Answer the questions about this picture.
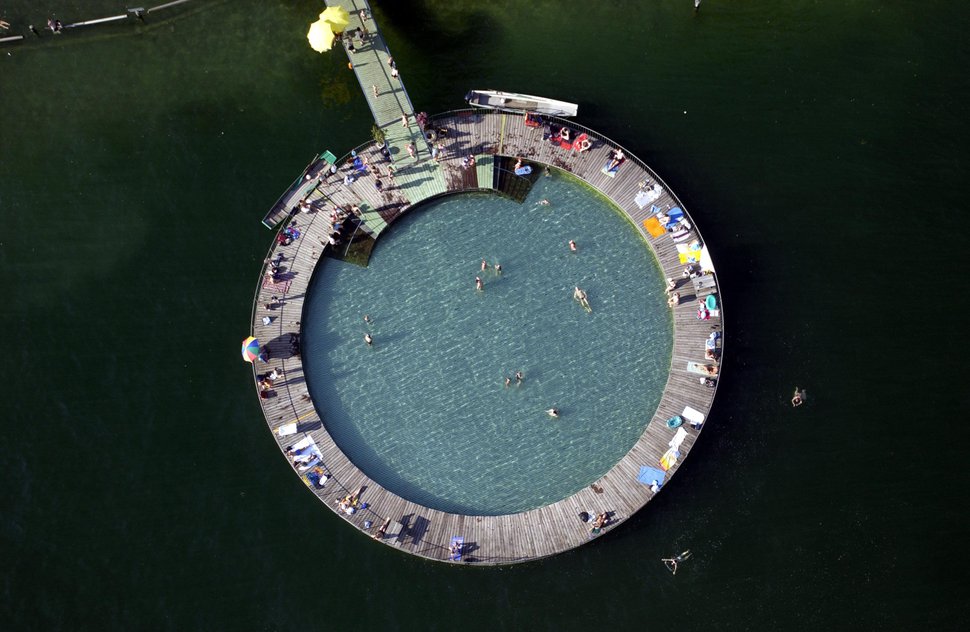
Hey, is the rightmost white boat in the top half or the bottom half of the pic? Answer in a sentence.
The rightmost white boat is in the top half of the image.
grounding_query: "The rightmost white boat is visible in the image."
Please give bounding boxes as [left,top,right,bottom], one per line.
[466,90,578,115]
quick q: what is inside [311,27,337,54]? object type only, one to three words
umbrella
